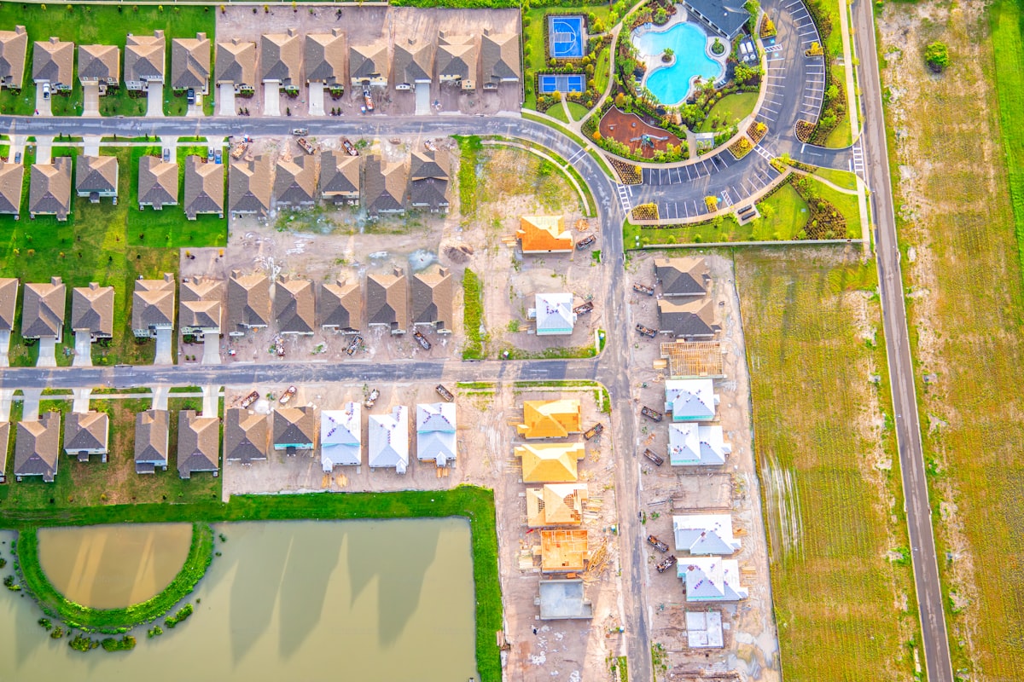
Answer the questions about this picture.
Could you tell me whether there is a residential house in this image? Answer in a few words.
Yes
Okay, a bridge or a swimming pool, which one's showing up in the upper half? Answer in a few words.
swimming pool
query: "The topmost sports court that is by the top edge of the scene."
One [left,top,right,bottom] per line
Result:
[548,15,585,58]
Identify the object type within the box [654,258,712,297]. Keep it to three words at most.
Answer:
house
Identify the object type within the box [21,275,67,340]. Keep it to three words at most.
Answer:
house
